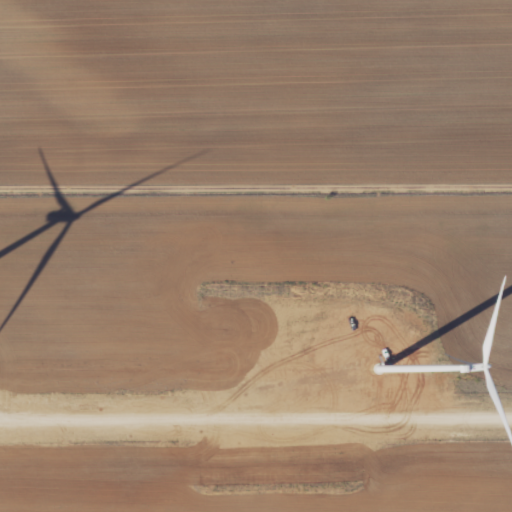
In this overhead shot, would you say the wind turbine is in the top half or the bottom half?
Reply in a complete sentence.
Seen from above, the wind turbine lies in the bottom half of the view.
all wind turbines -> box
[374,274,512,446]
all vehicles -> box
[350,316,357,330]
[383,348,390,359]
